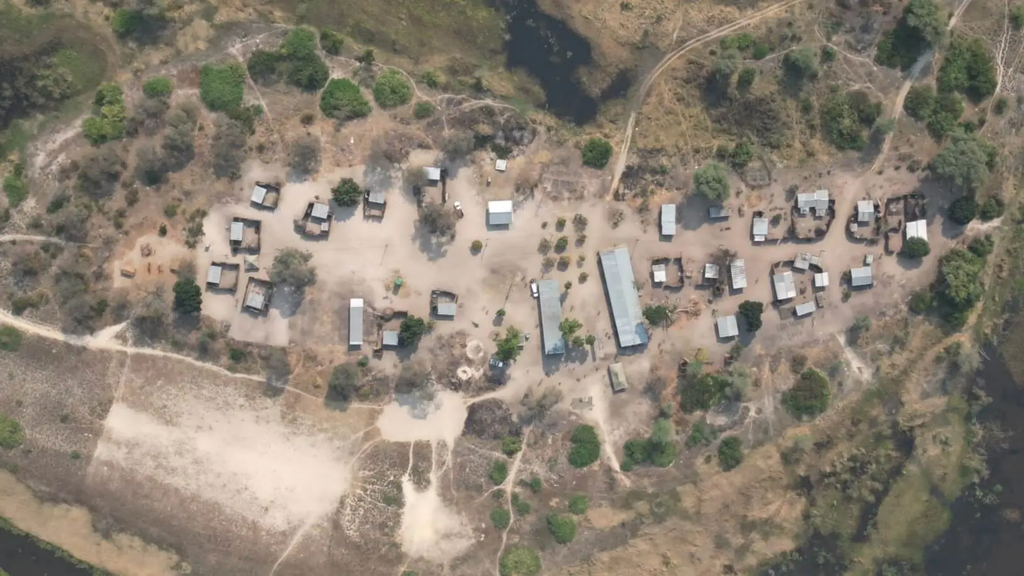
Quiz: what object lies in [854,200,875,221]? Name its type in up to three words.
house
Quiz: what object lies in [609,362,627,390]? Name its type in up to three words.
tent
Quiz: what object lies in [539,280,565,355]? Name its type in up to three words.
building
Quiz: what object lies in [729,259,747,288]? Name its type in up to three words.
house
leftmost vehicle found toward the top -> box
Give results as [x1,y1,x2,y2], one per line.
[453,201,465,219]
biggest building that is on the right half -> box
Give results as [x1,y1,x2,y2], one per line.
[599,246,647,348]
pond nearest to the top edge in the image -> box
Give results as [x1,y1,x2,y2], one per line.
[485,0,633,128]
